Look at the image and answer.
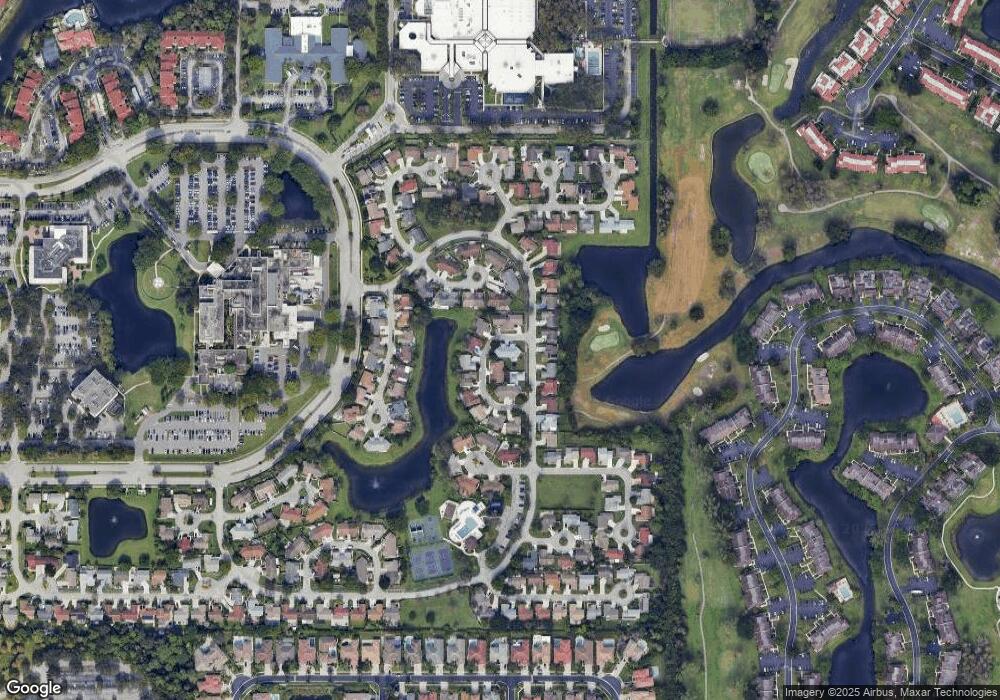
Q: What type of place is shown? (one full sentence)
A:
The picture captures a residential area.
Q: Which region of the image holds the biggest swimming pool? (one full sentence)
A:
You can find the biggest swimming pool in the bottom area of the picture.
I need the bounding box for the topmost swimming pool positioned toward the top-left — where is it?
[62,9,87,28]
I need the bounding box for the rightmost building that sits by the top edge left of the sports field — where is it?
[399,0,574,103]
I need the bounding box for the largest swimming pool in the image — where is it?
[440,501,485,543]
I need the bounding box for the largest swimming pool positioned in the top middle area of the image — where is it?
[586,47,603,75]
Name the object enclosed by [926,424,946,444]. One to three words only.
building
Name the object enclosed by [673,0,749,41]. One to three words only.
sports field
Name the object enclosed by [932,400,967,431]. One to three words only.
swimming pool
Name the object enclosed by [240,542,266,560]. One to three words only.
house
